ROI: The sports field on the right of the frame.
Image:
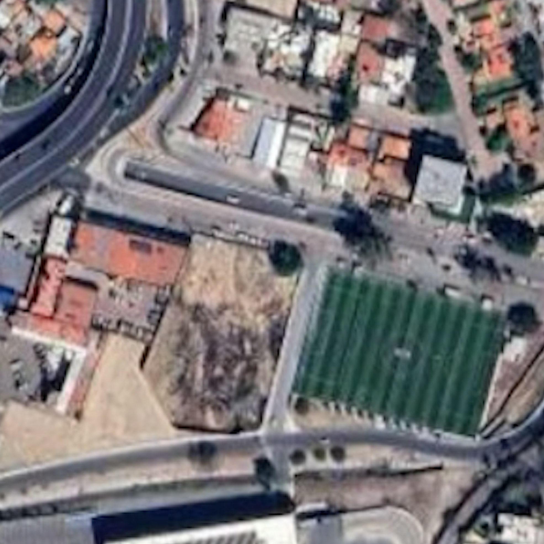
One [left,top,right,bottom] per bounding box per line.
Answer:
[293,271,504,435]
